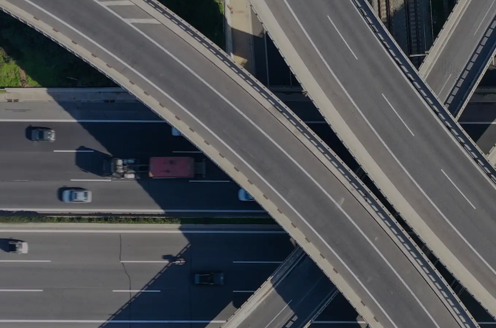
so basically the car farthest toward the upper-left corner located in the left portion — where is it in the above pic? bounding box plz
[31,128,57,143]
